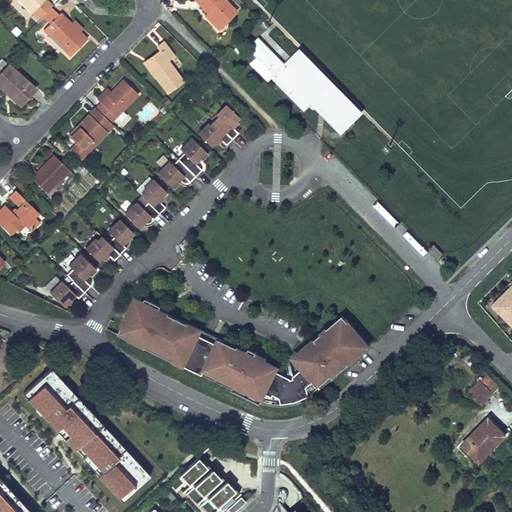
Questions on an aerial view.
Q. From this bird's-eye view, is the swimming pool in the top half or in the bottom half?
top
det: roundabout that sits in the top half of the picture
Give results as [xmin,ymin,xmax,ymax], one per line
[254,144,300,193]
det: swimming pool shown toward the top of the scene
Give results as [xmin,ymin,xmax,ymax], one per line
[136,102,160,124]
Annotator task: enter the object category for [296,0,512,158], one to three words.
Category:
soccer field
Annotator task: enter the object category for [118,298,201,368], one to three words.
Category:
building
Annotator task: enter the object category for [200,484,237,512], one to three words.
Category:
house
